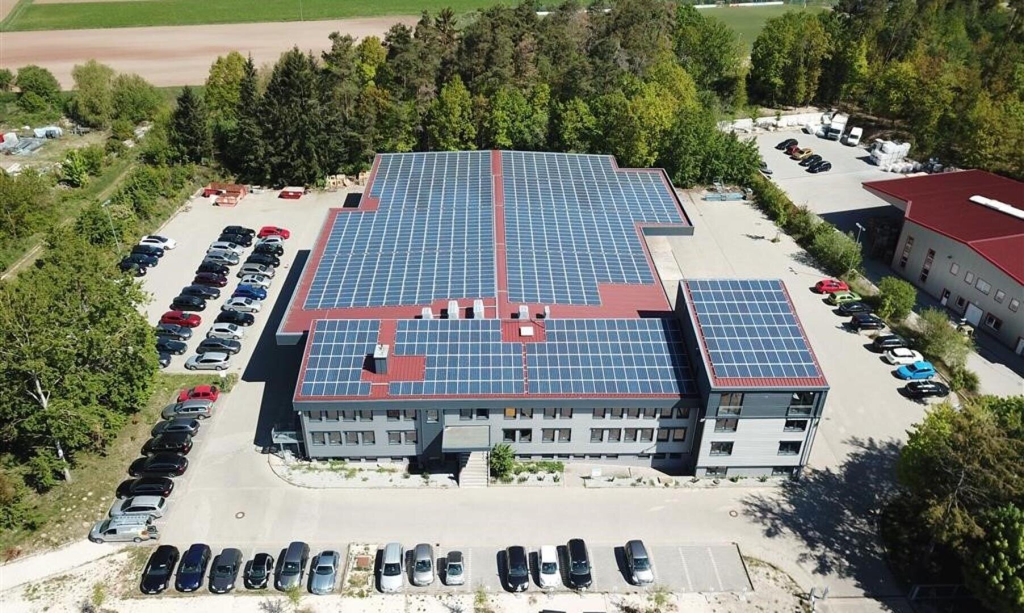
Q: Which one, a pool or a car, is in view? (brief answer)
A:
car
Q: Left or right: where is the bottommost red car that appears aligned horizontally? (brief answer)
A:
left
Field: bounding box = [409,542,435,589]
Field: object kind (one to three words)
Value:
car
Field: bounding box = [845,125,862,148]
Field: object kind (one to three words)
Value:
vehicle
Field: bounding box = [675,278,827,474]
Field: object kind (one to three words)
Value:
building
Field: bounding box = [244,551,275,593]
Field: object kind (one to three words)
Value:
car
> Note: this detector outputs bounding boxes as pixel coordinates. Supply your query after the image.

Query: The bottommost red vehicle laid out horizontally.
[177,383,221,403]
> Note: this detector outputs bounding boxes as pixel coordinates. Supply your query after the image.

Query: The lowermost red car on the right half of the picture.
[814,279,850,295]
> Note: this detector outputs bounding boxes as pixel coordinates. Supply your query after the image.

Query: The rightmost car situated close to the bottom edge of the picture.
[623,536,657,590]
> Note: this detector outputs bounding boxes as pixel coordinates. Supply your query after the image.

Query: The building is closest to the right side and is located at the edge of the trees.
[860,157,1024,353]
